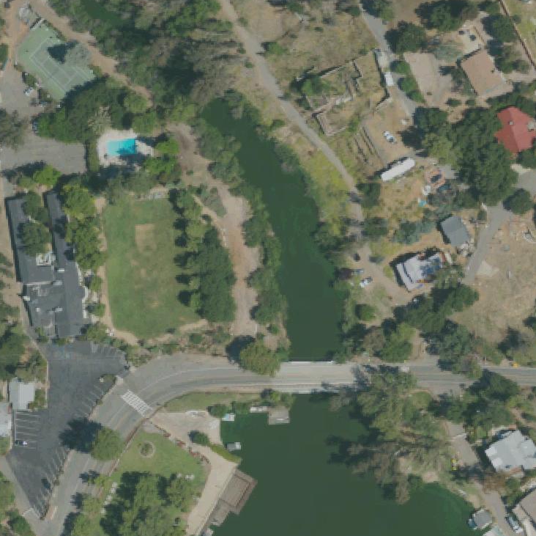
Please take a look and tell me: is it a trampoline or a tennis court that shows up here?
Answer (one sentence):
Visible in the photo is a tennis court.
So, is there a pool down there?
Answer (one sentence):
Yes, there is a pool in the image.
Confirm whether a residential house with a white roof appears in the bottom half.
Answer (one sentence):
Yes, in the bottom half there is a residential house with a white roof.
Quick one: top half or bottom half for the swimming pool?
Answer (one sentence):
Seen from above, the swimming pool lies in the top half of the view.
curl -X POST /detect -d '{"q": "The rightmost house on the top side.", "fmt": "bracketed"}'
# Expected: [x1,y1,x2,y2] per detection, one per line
[496,108,536,151]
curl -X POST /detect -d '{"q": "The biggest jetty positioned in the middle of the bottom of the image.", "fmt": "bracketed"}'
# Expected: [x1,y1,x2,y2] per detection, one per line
[210,470,257,525]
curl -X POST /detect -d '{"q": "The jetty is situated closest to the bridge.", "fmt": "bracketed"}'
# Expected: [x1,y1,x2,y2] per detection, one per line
[269,407,289,424]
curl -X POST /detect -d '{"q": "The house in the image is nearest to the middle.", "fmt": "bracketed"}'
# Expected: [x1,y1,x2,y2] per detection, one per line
[397,251,452,291]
